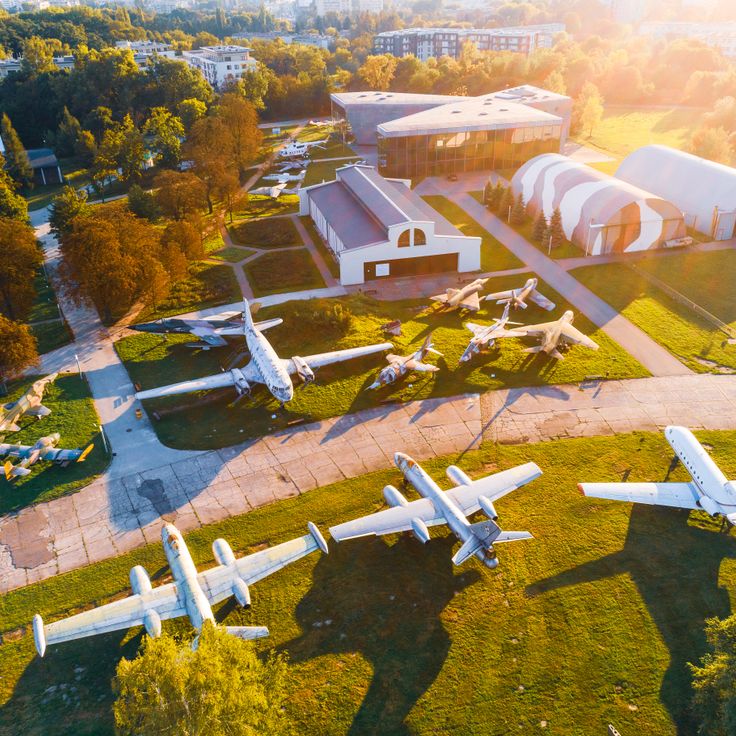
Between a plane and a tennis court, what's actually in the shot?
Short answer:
plane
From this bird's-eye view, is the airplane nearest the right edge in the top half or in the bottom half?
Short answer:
bottom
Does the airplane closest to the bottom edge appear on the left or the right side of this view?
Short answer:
left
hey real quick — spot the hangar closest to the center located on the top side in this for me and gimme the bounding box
[300,160,484,285]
